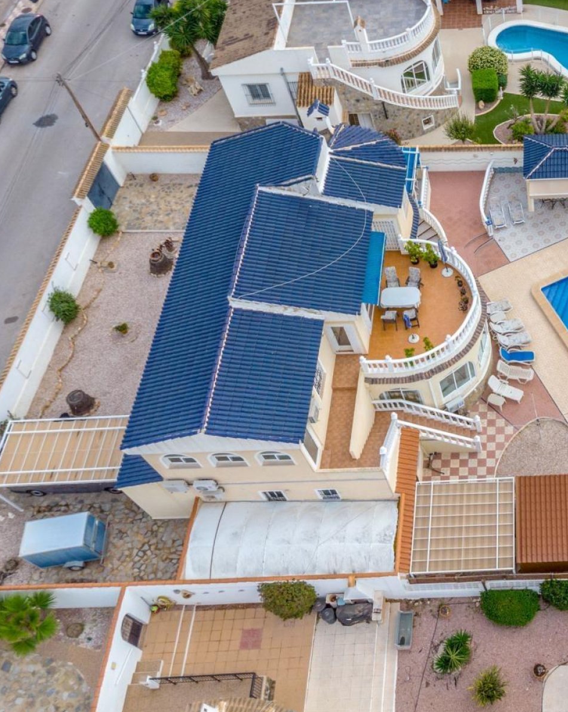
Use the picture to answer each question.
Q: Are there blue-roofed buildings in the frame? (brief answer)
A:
Yes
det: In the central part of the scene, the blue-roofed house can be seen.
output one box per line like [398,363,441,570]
[119,116,493,515]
